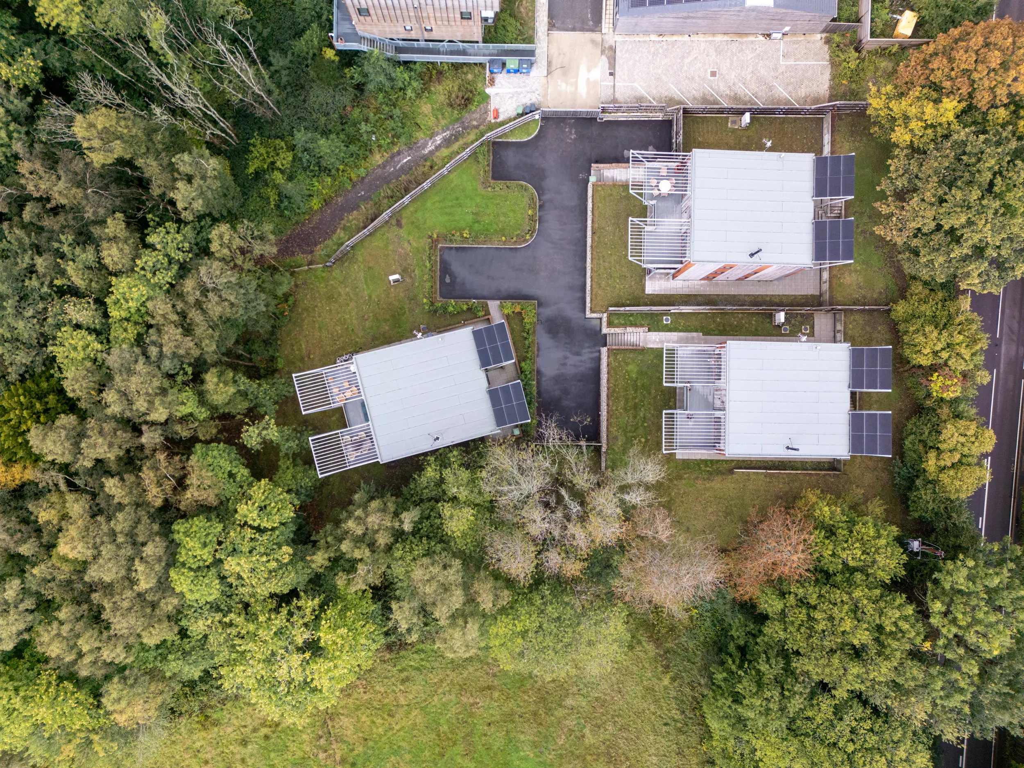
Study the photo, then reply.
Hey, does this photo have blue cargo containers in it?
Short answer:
No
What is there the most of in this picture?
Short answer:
trees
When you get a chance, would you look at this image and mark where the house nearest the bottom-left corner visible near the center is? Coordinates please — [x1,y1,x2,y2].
[293,319,531,475]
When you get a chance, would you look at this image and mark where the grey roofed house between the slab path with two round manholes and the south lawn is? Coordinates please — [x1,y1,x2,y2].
[662,330,889,459]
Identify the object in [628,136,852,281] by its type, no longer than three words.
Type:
house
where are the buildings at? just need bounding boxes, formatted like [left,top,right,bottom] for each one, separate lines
[662,330,889,459]
[348,0,502,48]
[293,319,531,475]
[628,136,852,281]
[611,0,839,36]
